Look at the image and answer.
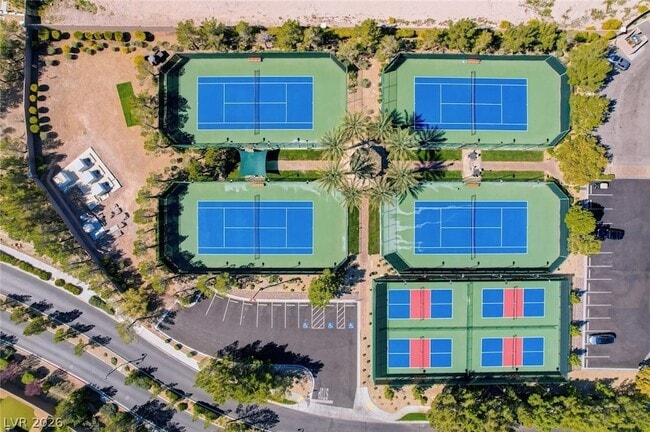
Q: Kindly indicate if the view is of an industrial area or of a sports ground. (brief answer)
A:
sports ground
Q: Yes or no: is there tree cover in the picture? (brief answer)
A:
Yes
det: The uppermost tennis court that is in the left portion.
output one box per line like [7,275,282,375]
[166,59,346,148]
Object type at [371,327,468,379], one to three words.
sports court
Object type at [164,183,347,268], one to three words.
tennis court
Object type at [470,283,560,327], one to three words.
sports court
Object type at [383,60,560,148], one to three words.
tennis court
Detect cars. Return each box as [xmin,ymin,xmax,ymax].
[589,334,614,345]
[598,228,625,240]
[606,53,631,71]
